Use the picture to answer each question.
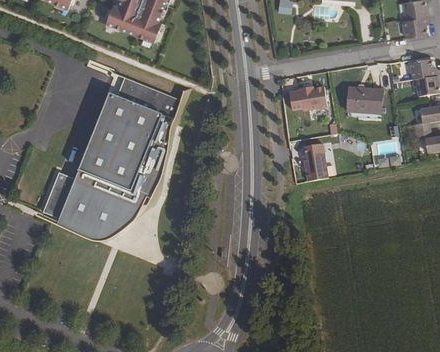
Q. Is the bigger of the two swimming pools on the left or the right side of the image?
right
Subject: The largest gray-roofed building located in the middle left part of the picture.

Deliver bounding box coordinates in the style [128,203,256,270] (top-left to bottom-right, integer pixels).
[44,74,178,240]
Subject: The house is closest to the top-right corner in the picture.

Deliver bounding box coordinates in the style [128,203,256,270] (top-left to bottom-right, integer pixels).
[400,0,432,40]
